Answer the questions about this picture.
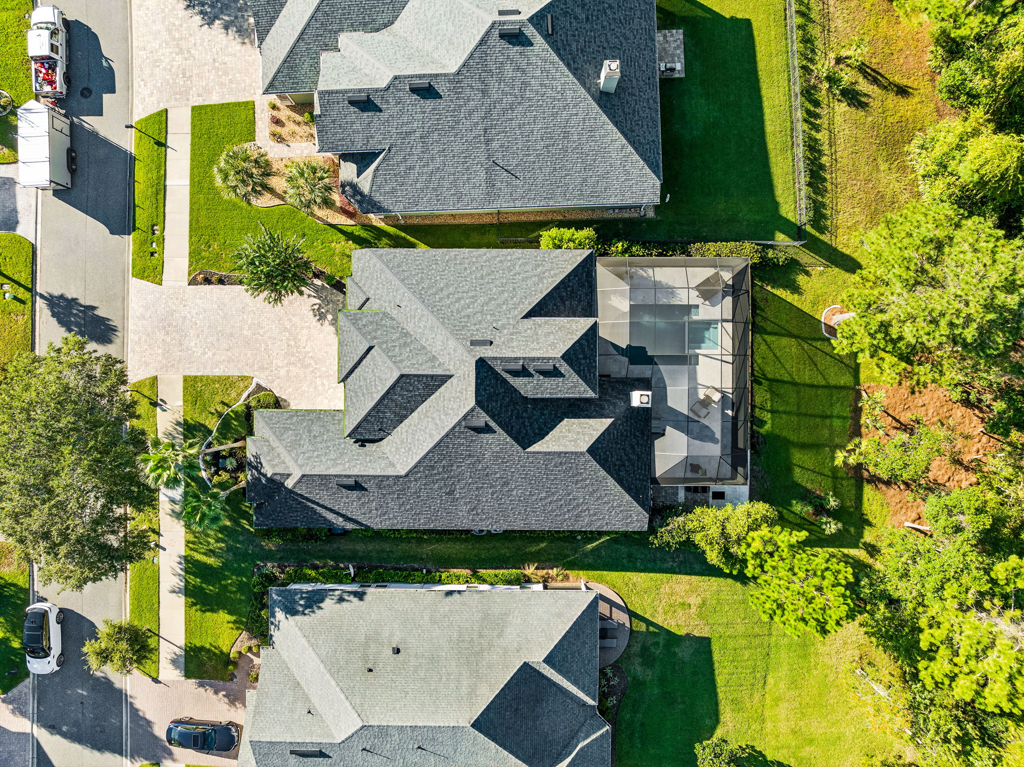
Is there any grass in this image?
Yes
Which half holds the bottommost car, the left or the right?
left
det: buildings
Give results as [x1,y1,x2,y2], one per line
[250,0,663,224]
[245,247,653,530]
[235,573,613,767]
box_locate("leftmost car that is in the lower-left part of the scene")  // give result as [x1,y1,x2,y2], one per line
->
[23,601,67,673]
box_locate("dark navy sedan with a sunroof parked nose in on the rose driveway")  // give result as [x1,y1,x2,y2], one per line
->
[163,714,243,756]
